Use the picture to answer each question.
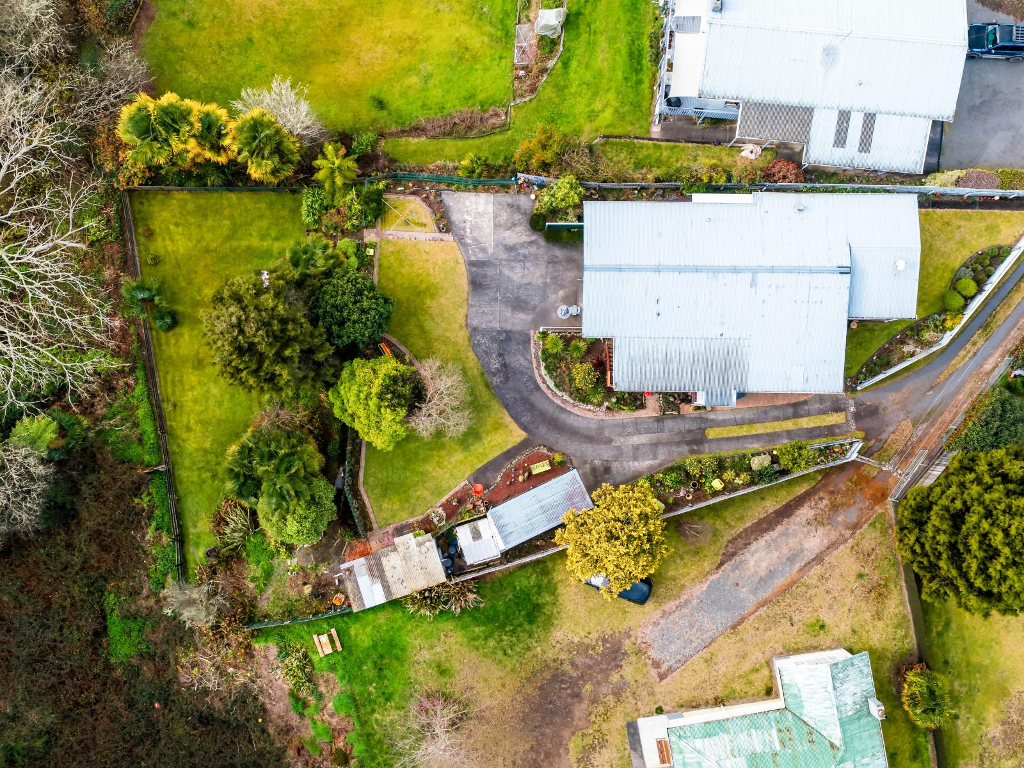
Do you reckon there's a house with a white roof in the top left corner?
No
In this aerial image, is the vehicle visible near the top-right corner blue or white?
blue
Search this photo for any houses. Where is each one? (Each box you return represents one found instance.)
[581,190,922,407]
[655,0,980,176]
[636,648,893,768]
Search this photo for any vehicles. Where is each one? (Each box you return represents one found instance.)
[577,569,655,609]
[967,13,1024,61]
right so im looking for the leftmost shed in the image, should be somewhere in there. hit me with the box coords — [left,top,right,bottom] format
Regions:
[341,532,446,612]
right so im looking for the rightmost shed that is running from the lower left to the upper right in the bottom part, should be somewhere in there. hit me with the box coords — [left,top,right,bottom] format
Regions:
[487,468,592,553]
